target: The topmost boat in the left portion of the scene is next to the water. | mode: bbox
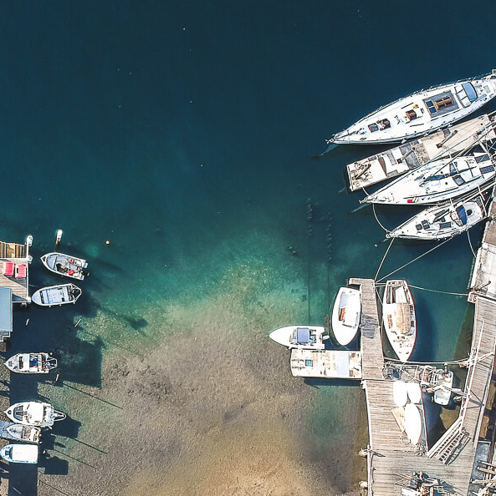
[41,252,95,283]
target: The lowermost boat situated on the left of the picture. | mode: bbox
[0,443,39,465]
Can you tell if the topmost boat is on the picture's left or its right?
right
